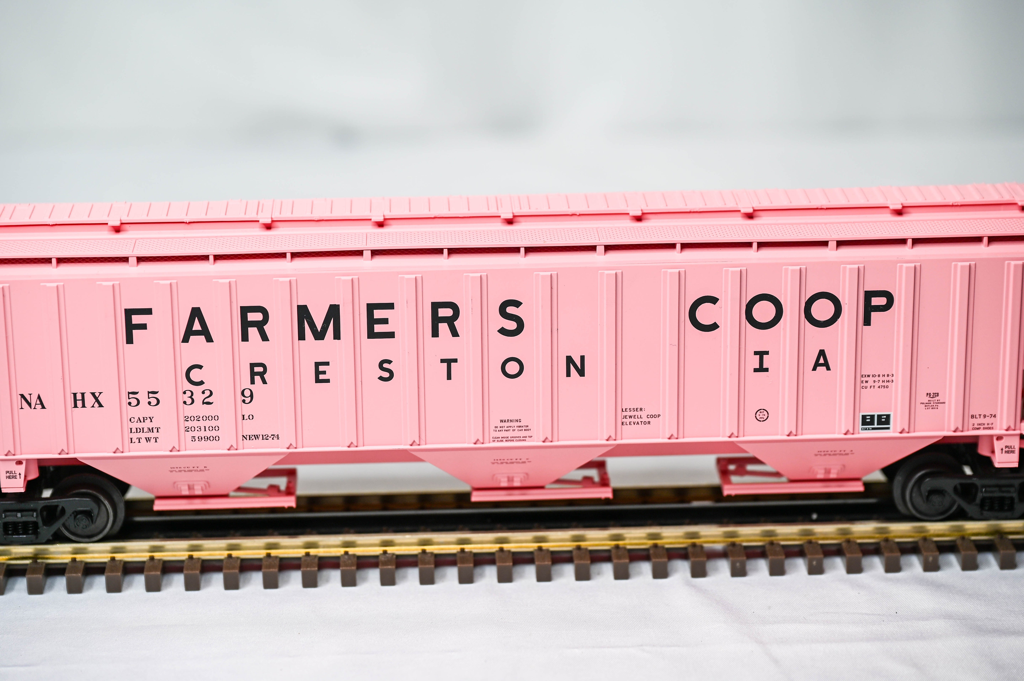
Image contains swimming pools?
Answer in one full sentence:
No, this view has no swimming pool in it.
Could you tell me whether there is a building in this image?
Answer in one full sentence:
No, the picture doesn't show any building.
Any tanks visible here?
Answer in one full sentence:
No, I can see no tank in this picture.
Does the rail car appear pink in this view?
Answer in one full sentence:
Yes, the rail car is indeed pink.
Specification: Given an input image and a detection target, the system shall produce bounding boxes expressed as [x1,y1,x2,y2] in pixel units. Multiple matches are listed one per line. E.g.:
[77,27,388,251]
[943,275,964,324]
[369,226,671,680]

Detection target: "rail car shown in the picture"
[0,184,1024,544]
